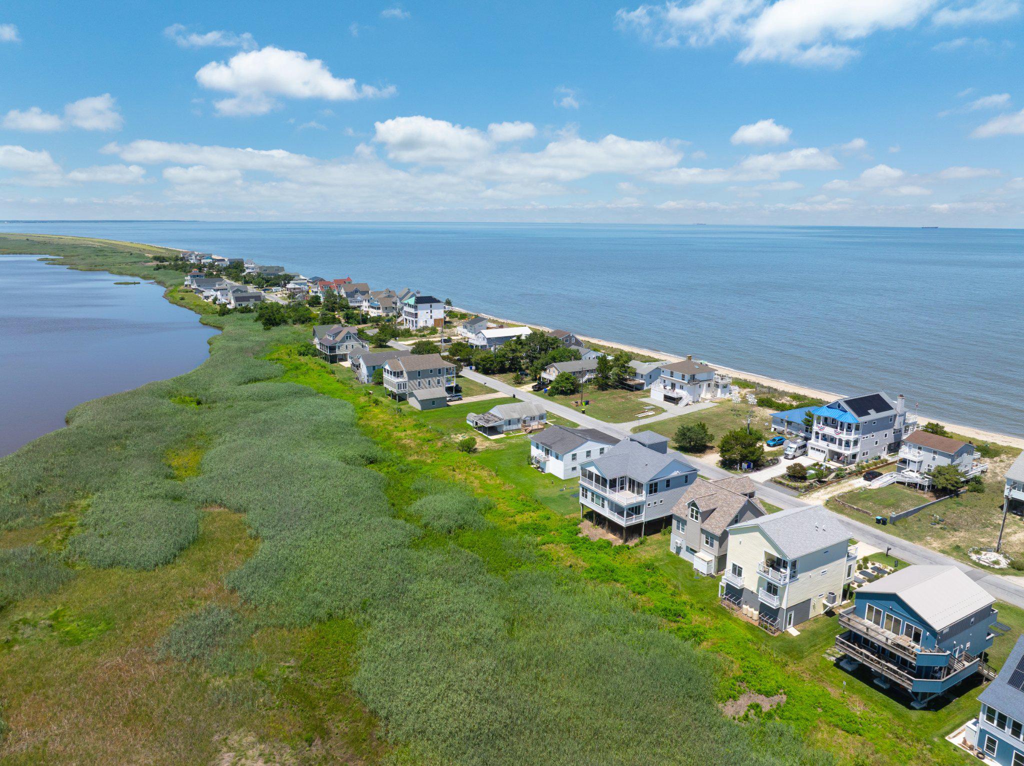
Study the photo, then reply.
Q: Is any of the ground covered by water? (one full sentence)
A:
Yes, water can be seen from above here.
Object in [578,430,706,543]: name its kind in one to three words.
house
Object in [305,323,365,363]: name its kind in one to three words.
house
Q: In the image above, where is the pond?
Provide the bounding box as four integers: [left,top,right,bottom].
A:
[0,254,222,469]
